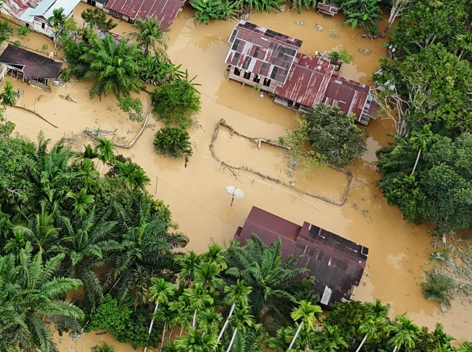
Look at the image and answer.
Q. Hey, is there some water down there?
Yes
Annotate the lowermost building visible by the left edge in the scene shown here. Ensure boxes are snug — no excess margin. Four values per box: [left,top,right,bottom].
[0,44,63,90]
